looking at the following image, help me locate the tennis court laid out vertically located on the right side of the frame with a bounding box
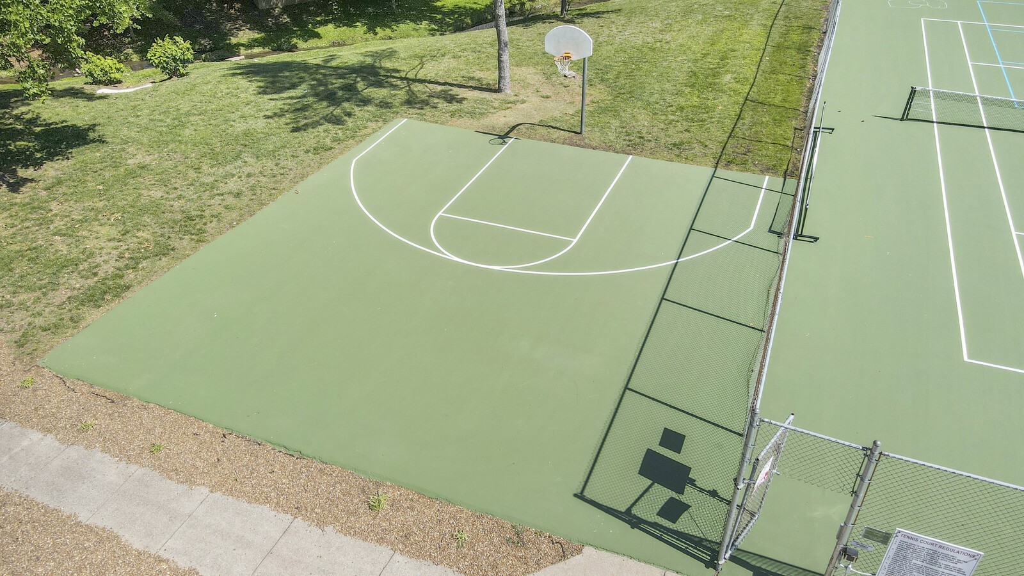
[714,0,1024,576]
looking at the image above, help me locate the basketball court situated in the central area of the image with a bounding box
[32,121,795,576]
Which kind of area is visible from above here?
sports ground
